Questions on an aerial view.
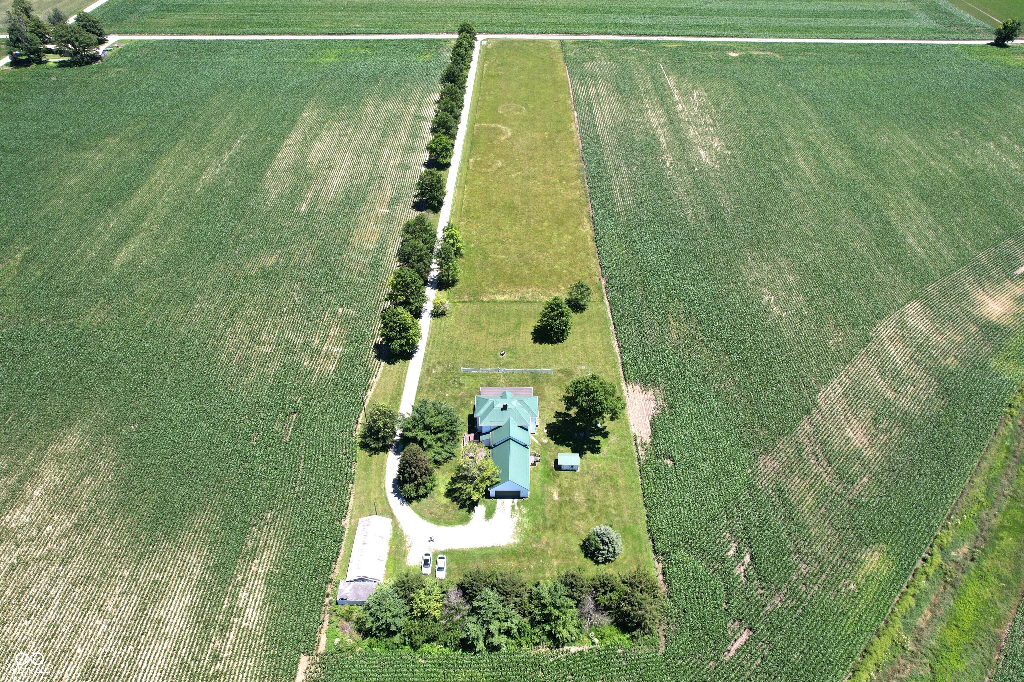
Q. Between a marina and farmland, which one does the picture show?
farmland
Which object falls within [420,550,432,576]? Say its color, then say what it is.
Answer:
white vehicle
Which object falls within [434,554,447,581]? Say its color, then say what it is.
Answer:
white vehicle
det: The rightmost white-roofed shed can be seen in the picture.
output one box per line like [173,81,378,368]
[558,453,580,470]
